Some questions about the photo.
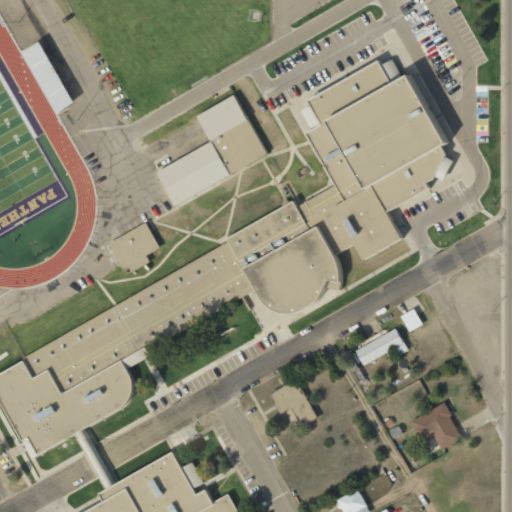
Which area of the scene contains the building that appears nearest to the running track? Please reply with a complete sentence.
Look in the left portion of the view to spot the building that appears nearest to the running track.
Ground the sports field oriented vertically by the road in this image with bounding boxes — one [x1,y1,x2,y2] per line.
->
[0,54,76,266]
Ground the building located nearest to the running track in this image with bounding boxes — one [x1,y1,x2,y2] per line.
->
[110,223,161,272]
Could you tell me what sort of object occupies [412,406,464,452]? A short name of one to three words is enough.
house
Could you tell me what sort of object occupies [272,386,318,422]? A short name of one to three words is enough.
house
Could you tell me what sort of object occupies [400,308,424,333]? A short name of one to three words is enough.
building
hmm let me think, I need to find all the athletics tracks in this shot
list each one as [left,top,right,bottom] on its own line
[0,8,98,288]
